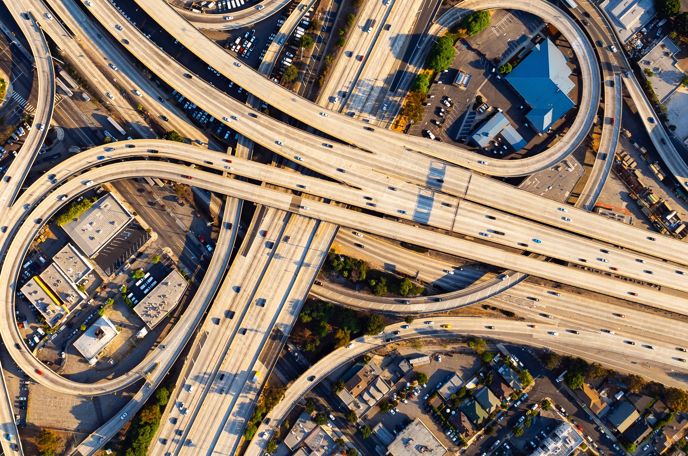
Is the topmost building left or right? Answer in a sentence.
You can find the topmost building on the right side of the picture.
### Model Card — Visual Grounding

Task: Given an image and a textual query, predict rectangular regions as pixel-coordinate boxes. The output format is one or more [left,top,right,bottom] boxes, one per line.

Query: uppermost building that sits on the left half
[60,192,134,258]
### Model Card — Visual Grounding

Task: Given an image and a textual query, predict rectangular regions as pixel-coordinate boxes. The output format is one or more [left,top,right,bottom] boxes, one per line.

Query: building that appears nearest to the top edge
[596,0,656,45]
